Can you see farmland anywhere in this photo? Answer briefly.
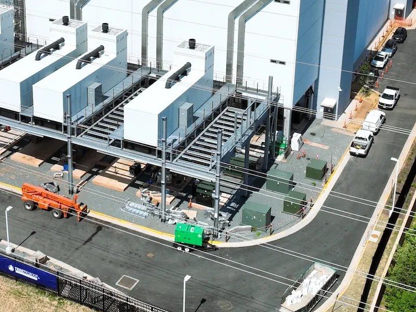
No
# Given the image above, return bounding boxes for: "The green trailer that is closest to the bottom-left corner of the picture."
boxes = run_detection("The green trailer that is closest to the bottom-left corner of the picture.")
[172,218,230,251]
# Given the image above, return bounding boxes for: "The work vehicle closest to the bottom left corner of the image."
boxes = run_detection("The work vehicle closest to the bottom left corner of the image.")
[22,185,93,225]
